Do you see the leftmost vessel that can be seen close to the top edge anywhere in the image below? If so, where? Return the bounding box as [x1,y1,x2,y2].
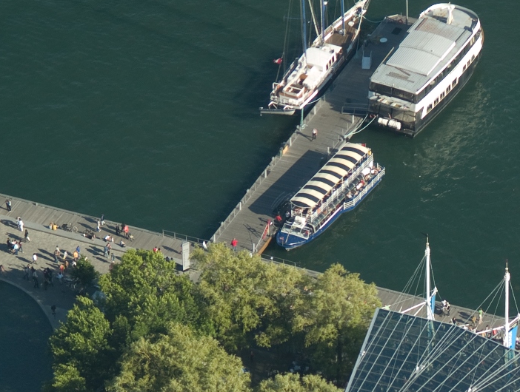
[264,0,370,118]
